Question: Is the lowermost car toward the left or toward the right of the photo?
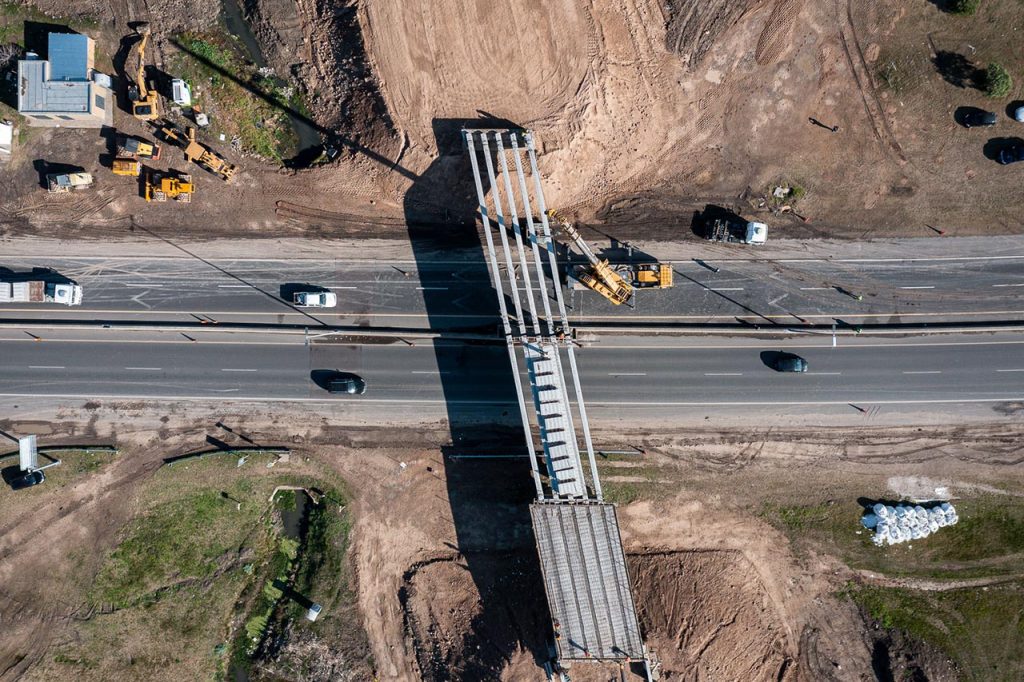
left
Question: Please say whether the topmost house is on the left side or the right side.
left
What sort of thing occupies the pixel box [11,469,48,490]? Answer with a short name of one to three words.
car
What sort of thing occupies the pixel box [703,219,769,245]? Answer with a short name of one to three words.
truck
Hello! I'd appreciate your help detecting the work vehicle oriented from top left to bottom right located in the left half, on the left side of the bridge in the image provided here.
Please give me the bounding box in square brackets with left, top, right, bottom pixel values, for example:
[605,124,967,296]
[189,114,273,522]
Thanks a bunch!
[161,125,237,181]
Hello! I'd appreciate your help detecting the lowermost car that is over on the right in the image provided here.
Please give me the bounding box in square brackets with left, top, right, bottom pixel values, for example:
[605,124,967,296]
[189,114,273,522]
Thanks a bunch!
[774,356,808,373]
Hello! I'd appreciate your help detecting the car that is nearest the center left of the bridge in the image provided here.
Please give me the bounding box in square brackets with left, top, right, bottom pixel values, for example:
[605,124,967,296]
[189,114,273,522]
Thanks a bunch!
[330,376,367,394]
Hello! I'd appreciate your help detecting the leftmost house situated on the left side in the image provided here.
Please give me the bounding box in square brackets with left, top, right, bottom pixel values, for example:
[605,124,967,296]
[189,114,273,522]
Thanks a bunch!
[19,34,113,129]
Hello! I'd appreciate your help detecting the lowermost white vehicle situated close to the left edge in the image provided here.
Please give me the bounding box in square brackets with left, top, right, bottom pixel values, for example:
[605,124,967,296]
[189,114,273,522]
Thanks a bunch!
[0,281,87,308]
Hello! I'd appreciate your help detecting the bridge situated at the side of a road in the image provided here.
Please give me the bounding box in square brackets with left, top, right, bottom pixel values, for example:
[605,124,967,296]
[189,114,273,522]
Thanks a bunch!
[461,129,652,682]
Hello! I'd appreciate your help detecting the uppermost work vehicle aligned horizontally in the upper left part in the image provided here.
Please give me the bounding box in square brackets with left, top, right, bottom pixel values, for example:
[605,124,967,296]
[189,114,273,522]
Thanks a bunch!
[118,137,167,163]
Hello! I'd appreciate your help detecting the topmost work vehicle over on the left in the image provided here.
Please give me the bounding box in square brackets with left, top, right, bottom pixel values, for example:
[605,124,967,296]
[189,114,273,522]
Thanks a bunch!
[129,30,166,126]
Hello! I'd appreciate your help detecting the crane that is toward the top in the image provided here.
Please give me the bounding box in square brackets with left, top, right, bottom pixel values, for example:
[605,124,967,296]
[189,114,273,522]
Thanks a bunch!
[542,207,675,311]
